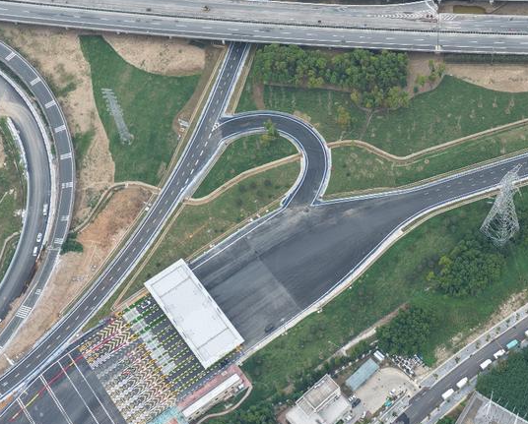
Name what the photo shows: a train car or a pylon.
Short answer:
pylon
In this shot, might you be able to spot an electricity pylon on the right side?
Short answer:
Yes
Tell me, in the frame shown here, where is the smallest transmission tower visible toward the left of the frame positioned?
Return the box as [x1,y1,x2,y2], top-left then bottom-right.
[106,86,134,142]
